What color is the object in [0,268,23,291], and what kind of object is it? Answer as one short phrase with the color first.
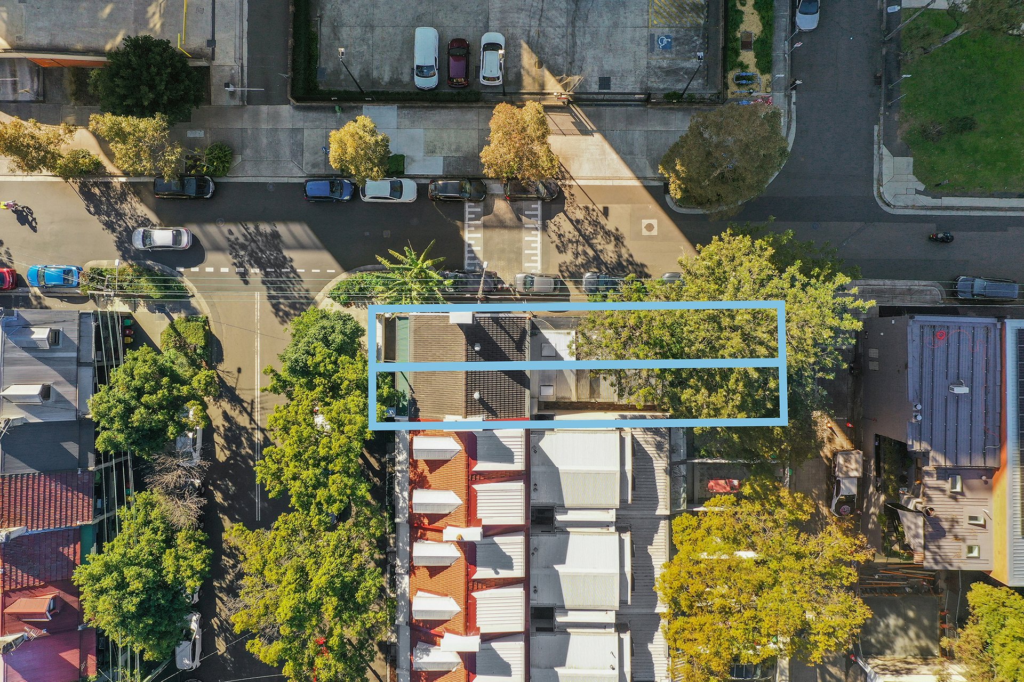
red car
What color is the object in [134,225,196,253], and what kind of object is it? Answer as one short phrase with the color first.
gray car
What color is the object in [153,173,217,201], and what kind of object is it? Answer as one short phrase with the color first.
black car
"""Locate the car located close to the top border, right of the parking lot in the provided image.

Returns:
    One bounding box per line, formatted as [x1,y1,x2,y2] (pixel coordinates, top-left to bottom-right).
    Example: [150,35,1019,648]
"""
[793,0,823,32]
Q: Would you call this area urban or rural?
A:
urban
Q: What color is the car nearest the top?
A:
blue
